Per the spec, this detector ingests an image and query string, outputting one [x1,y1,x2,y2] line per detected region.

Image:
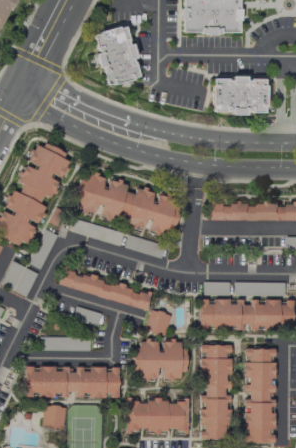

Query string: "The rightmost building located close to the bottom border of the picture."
[244,348,278,444]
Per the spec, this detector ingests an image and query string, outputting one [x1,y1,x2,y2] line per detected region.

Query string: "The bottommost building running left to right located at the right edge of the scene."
[202,298,296,331]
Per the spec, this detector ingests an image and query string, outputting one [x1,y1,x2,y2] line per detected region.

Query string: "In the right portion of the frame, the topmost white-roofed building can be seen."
[183,0,246,34]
